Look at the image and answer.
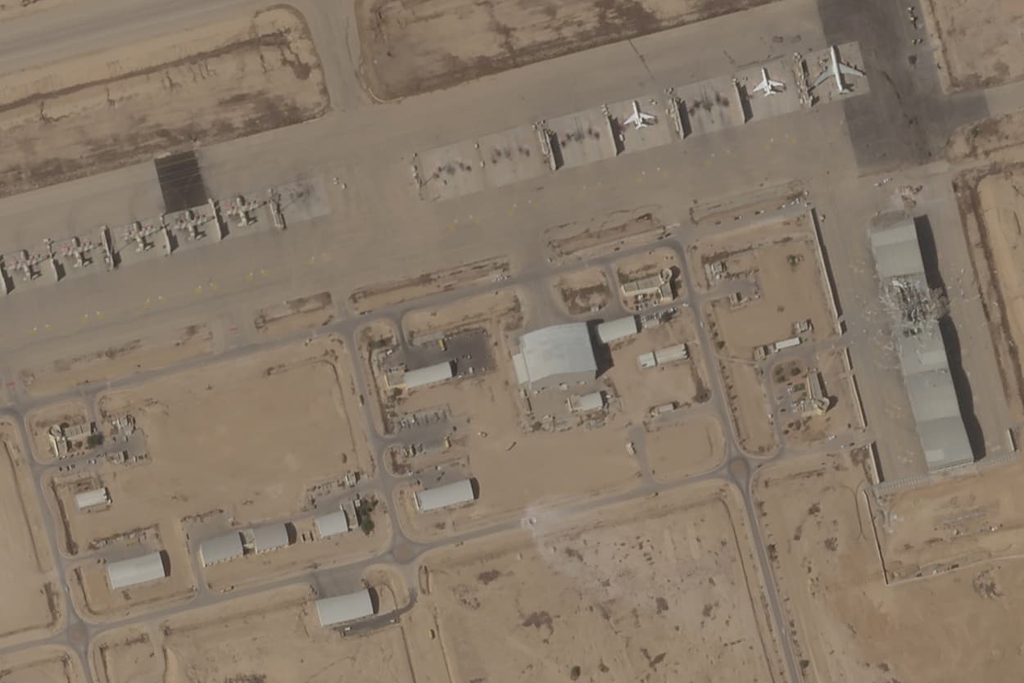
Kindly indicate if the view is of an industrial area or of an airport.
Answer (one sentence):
The area seen from above is an airport.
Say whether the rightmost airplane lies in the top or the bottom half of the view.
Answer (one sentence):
Seen from above, the rightmost airplane lies in the top half of the view.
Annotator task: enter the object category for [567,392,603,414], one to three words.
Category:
hangar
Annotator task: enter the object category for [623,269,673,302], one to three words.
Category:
building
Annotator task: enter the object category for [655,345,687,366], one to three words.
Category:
shed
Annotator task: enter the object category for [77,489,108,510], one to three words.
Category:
shed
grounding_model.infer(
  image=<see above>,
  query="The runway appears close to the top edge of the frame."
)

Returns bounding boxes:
[0,0,294,75]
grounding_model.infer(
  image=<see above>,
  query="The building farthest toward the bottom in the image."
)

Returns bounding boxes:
[316,589,374,627]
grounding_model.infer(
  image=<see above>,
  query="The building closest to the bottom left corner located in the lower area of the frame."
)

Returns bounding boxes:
[108,552,165,591]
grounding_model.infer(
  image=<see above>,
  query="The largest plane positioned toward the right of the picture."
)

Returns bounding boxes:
[815,48,864,90]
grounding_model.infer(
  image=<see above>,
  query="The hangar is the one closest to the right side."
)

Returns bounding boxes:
[869,218,974,478]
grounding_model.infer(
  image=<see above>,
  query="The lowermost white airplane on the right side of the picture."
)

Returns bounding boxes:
[624,102,654,127]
